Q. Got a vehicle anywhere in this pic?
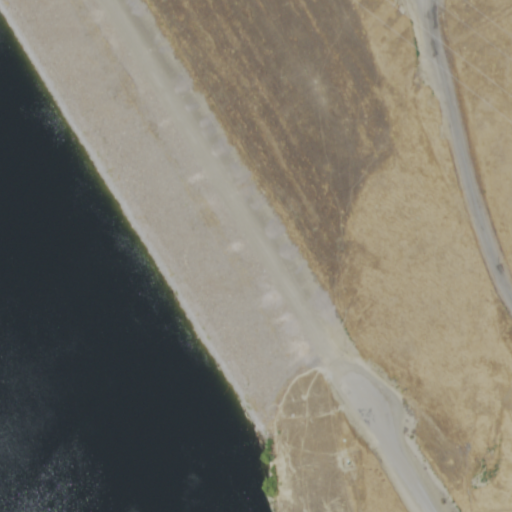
No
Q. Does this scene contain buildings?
No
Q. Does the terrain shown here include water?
Yes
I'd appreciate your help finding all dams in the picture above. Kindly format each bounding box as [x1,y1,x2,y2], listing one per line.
[0,0,420,425]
